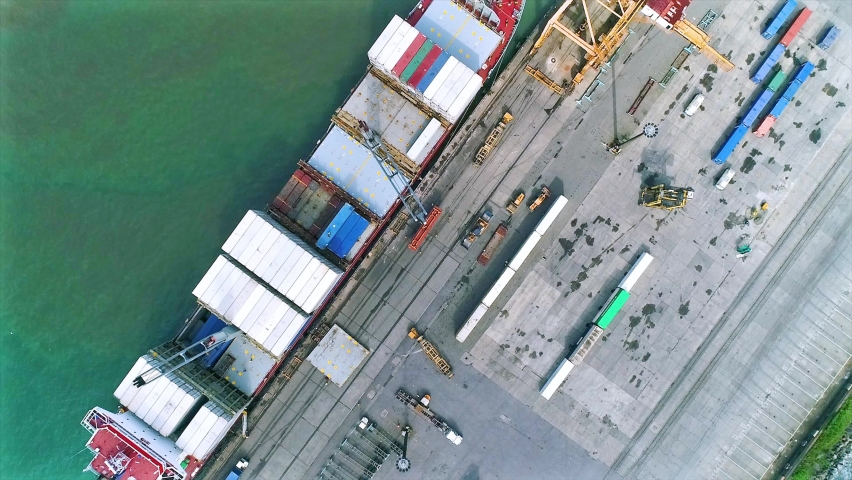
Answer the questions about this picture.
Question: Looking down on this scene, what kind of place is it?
port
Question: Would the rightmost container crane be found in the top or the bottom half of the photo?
top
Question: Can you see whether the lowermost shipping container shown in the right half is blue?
No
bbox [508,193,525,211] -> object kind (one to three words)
work vehicle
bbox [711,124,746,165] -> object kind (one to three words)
shipping container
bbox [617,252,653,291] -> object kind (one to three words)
shipping container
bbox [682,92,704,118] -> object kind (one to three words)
vehicle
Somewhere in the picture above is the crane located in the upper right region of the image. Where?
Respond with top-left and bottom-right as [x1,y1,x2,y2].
[522,0,738,96]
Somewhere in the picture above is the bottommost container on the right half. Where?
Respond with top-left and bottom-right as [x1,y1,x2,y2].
[542,355,576,397]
